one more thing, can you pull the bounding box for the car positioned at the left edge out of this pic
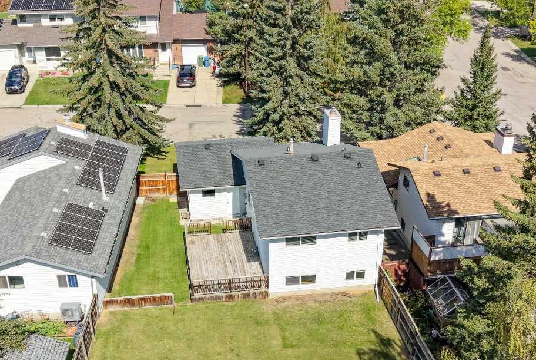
[6,65,40,90]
